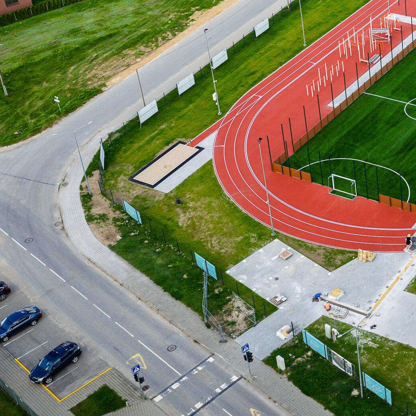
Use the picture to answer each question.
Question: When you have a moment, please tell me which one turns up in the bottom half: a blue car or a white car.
blue car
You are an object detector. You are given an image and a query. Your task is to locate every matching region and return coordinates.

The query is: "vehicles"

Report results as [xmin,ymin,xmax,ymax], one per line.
[0,284,13,304]
[0,307,45,344]
[29,342,84,384]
